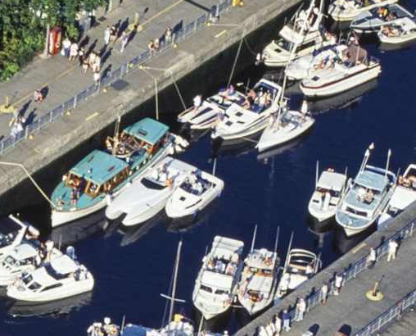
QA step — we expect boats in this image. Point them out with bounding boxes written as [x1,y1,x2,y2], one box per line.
[285,42,353,83]
[110,159,204,226]
[240,220,292,320]
[6,257,103,305]
[167,175,235,223]
[158,265,200,336]
[125,318,161,336]
[261,0,342,72]
[192,232,252,325]
[0,244,55,286]
[377,155,416,230]
[52,123,190,225]
[90,316,120,336]
[351,6,416,36]
[378,23,416,46]
[276,237,331,303]
[328,0,403,24]
[0,214,52,255]
[255,42,319,154]
[178,90,246,126]
[310,161,348,227]
[300,29,390,97]
[211,82,293,143]
[341,133,404,243]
